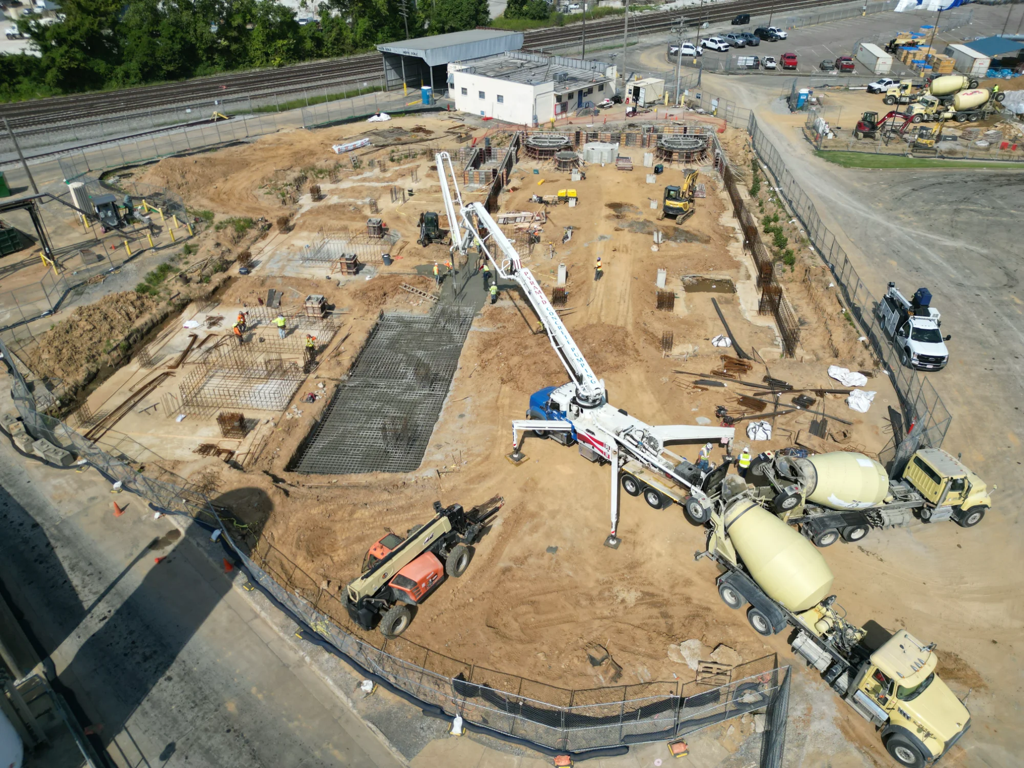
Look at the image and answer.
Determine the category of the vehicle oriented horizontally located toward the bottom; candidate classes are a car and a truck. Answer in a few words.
truck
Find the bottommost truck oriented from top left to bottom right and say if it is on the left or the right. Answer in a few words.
right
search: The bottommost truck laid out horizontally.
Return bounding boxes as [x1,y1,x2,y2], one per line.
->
[750,442,1001,544]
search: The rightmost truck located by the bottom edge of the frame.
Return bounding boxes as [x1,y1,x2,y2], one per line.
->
[667,481,980,768]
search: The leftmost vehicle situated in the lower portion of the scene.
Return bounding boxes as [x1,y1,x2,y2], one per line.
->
[335,494,496,644]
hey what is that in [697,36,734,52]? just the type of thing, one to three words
vehicle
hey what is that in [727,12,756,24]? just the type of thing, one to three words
vehicle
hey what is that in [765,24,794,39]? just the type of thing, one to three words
car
